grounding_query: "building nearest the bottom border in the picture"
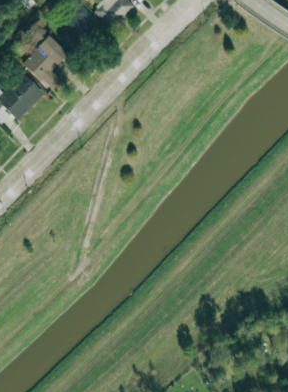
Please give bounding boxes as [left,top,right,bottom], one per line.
[0,76,45,124]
